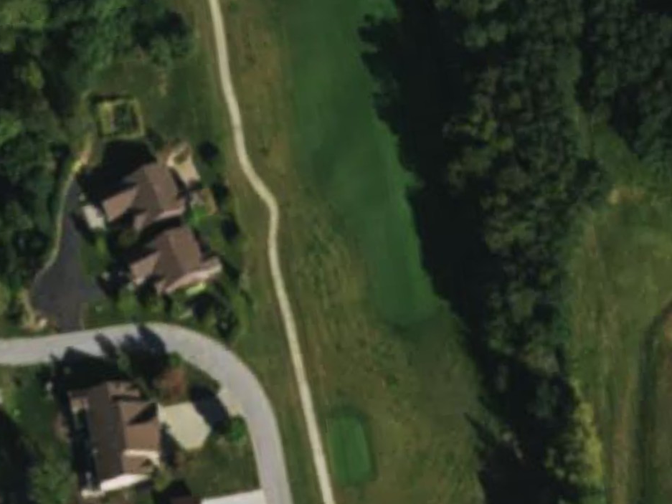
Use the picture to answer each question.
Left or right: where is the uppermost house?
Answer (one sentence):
The uppermost house appears in the left half of the scene.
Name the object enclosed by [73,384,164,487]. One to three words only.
house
